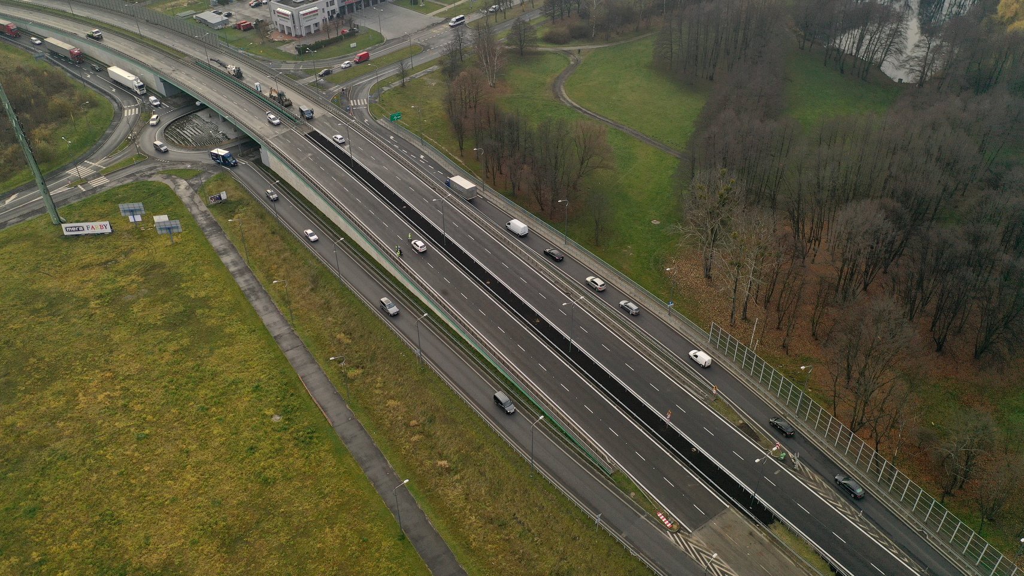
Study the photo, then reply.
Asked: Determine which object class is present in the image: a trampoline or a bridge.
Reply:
bridge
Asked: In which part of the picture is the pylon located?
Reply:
top left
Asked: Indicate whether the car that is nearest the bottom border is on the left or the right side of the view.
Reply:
right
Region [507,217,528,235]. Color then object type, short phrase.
white vehicle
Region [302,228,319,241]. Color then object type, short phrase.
white vehicle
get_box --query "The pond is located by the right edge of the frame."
[834,0,982,84]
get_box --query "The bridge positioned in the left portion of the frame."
[156,55,350,167]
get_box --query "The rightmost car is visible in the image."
[833,473,867,500]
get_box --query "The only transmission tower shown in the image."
[0,62,63,226]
